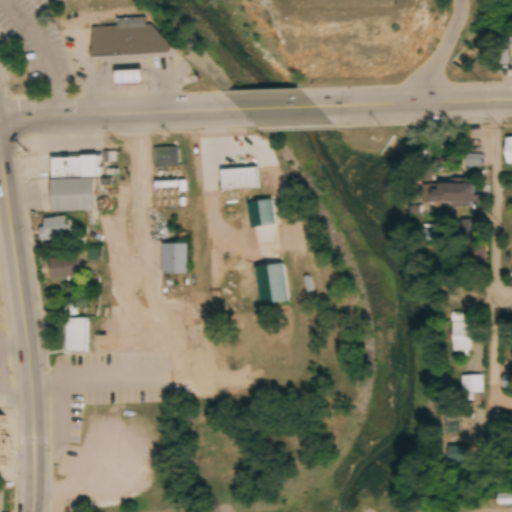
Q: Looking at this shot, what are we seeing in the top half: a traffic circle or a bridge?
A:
bridge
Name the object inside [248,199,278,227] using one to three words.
barn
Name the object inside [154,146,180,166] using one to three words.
house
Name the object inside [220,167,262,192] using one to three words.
building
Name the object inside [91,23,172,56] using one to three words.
building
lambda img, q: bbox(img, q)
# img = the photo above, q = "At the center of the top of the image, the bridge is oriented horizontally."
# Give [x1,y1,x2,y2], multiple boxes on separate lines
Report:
[222,87,333,128]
